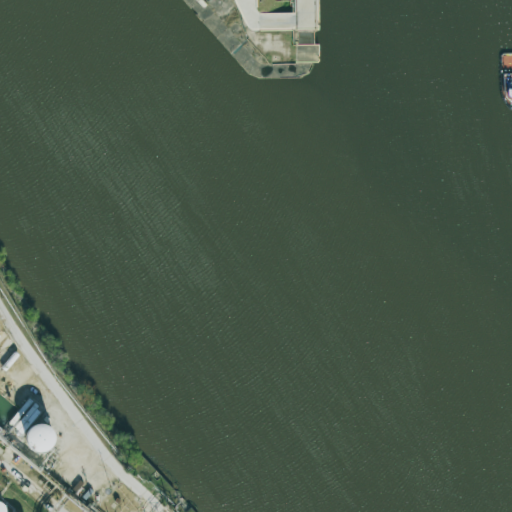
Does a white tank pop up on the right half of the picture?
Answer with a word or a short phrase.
No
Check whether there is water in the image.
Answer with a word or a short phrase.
Yes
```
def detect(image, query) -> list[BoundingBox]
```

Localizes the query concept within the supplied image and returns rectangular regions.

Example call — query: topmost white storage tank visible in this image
[27,423,58,455]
